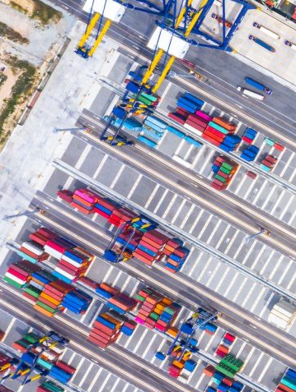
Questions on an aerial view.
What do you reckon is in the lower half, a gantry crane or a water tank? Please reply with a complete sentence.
The one visible in the lower half is a gantry crane.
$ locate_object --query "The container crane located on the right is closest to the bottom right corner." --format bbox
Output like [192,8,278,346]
[161,302,215,360]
